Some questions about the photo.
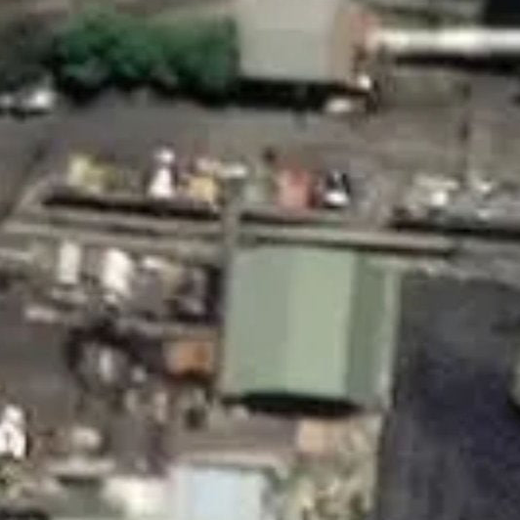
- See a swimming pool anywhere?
No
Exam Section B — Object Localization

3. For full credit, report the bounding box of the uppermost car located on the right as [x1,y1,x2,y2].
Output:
[324,95,358,114]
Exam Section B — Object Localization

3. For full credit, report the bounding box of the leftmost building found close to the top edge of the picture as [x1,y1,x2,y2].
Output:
[234,0,366,92]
